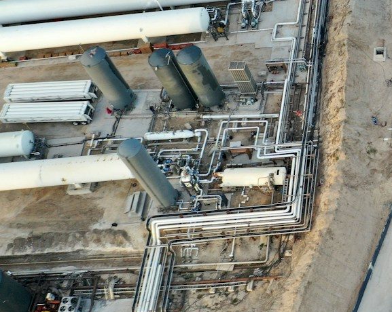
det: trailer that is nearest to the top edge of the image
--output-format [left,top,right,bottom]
[2,71,95,97]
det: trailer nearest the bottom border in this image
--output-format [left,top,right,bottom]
[0,94,96,123]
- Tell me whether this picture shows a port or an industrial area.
industrial area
